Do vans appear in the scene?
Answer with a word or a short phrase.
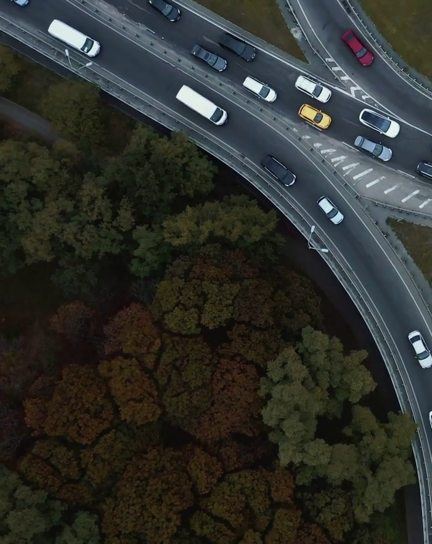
Yes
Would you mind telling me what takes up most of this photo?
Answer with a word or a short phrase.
trees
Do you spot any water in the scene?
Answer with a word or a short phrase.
No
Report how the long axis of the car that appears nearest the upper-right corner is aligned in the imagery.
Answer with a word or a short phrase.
at an angle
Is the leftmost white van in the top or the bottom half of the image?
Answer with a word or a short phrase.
top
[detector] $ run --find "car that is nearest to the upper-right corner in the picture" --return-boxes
[342,31,374,68]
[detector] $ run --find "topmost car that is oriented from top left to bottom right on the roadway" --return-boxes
[147,0,183,23]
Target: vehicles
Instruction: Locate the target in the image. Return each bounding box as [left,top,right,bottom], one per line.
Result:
[297,103,333,132]
[191,44,229,73]
[353,134,393,163]
[218,33,258,62]
[359,109,400,139]
[173,84,230,127]
[315,195,345,225]
[293,75,333,104]
[10,0,31,8]
[147,0,183,23]
[240,75,278,104]
[342,31,374,68]
[416,161,432,180]
[46,18,104,59]
[408,330,432,368]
